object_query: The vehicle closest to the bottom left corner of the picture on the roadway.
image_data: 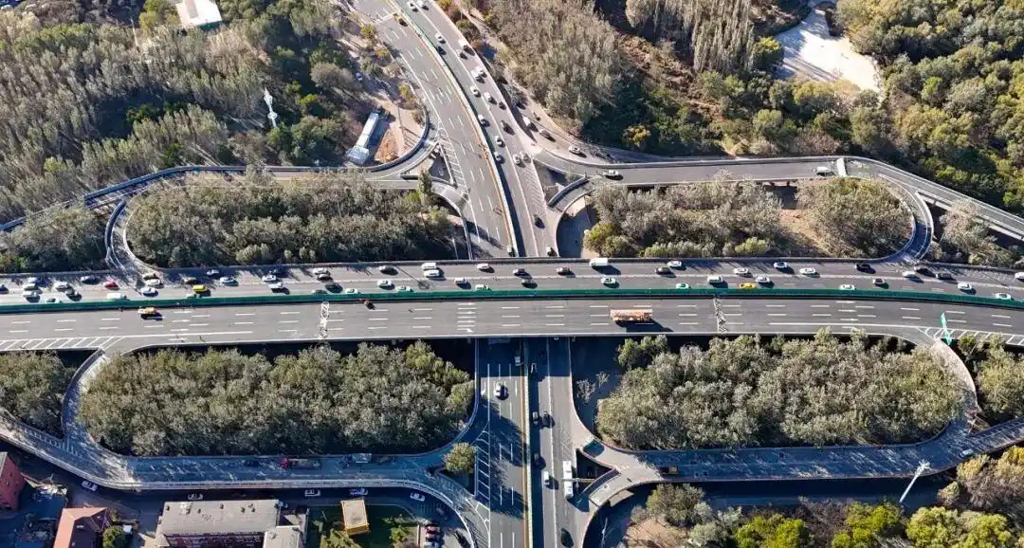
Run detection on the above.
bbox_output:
[81,480,97,492]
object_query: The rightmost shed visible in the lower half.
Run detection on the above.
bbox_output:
[341,499,370,535]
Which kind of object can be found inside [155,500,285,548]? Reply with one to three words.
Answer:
building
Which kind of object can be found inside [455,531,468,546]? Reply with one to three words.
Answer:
vehicle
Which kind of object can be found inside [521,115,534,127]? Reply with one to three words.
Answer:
vehicle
